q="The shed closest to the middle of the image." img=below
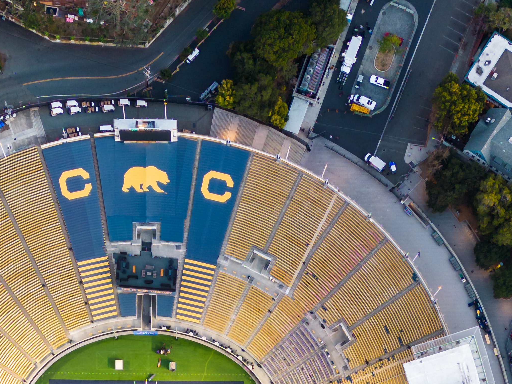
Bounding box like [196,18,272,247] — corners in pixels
[284,96,309,141]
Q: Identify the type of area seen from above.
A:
sports ground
